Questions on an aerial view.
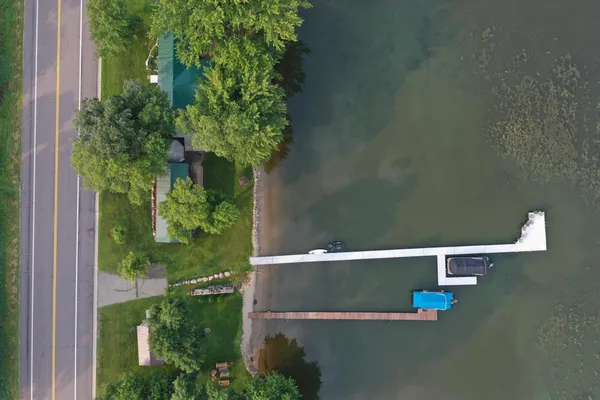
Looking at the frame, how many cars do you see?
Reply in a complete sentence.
No cars are visible.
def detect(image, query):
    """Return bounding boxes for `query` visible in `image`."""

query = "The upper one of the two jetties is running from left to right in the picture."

[250,212,548,285]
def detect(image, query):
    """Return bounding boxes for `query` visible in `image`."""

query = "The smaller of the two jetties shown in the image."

[248,308,437,320]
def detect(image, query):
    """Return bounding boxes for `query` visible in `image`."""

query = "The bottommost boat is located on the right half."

[412,291,454,309]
